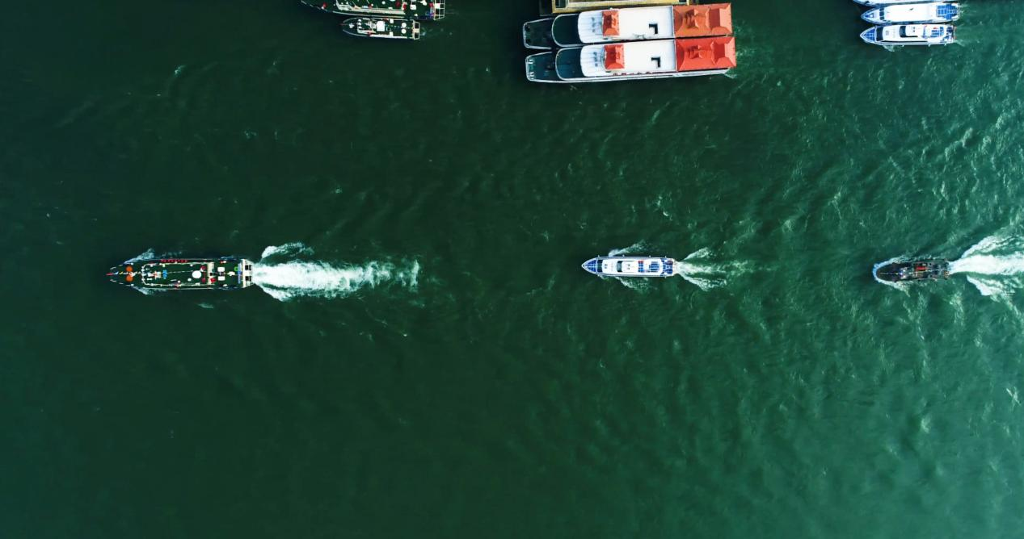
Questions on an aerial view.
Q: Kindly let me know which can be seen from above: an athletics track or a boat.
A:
boat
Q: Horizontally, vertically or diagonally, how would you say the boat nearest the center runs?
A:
horizontally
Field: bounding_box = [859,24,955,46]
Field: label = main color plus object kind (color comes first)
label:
white boat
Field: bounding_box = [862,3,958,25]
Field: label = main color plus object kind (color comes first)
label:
white boat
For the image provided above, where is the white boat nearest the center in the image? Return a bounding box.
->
[582,256,678,278]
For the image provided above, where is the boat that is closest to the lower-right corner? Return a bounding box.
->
[879,260,952,281]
